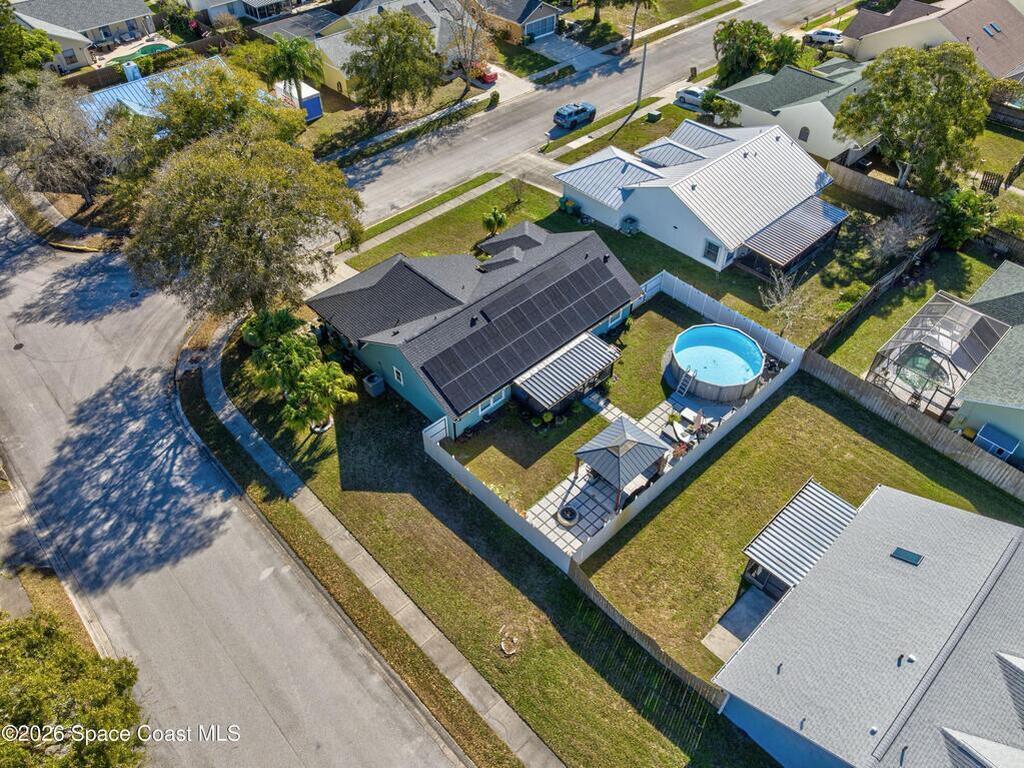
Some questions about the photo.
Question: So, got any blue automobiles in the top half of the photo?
Yes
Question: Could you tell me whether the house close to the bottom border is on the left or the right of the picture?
right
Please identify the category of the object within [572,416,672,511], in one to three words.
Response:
gazebo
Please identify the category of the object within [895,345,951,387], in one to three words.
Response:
swimming pool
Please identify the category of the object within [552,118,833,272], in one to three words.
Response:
house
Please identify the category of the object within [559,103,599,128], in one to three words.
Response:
car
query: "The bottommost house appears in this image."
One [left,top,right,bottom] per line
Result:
[709,483,1024,768]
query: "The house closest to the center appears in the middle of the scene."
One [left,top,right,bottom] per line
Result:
[306,221,642,440]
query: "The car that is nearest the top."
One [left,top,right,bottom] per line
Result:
[803,27,842,47]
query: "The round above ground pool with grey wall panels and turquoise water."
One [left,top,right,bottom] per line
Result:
[670,324,765,399]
